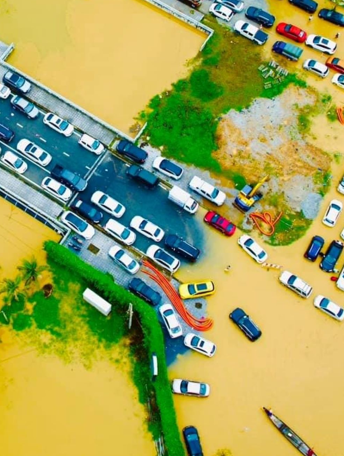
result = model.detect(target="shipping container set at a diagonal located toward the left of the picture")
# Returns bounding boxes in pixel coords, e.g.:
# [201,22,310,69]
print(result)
[84,288,111,317]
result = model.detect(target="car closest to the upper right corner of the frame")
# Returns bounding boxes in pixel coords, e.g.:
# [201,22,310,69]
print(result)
[318,10,344,29]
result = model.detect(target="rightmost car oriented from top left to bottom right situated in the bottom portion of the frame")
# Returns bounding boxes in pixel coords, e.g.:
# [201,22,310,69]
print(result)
[313,296,344,324]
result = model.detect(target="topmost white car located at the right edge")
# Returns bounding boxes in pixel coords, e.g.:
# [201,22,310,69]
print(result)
[305,36,338,56]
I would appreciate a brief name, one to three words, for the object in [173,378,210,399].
car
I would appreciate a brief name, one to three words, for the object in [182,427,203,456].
car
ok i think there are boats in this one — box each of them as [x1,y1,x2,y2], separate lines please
[263,407,317,456]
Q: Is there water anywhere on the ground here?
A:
Yes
